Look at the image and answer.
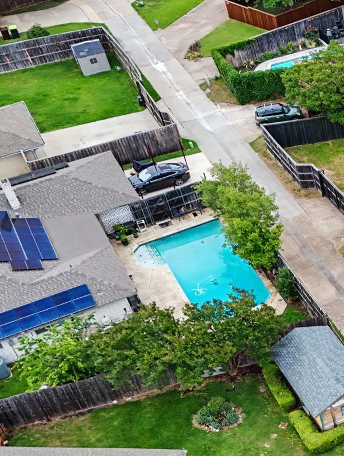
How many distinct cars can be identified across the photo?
two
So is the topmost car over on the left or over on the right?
right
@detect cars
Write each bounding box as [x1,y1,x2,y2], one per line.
[253,97,303,123]
[130,162,191,195]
